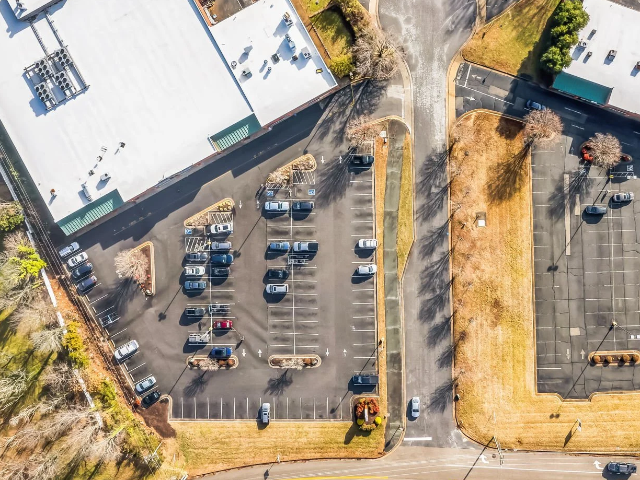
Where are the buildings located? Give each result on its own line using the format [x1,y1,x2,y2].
[549,0,640,122]
[0,0,339,236]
